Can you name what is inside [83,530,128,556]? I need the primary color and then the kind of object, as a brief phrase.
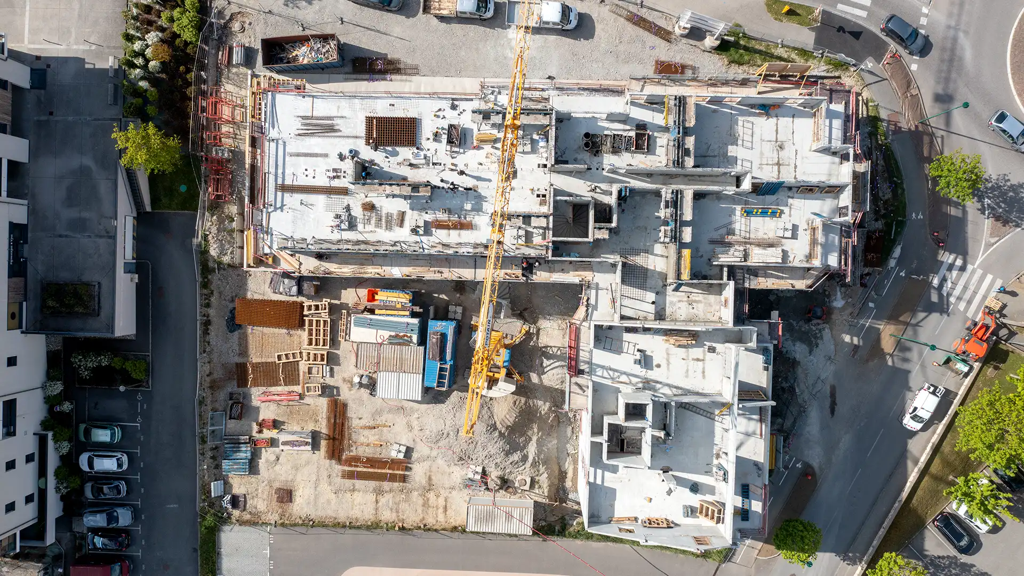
black car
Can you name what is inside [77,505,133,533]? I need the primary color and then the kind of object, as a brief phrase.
blue car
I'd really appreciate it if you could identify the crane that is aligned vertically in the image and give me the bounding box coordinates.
[460,0,535,435]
